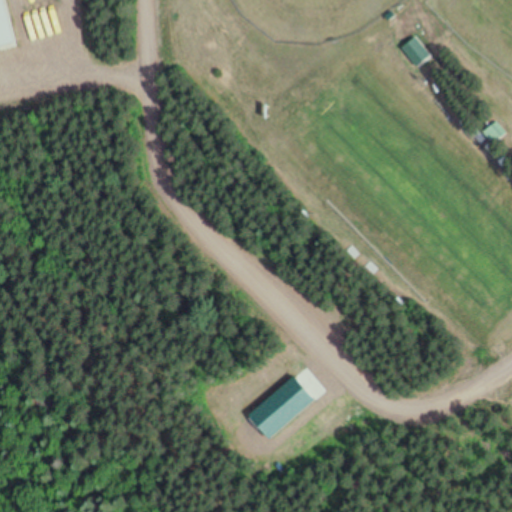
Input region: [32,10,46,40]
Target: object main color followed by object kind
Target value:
white vehicle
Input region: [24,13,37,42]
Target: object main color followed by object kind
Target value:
white vehicle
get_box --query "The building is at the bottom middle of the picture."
[249,377,313,438]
